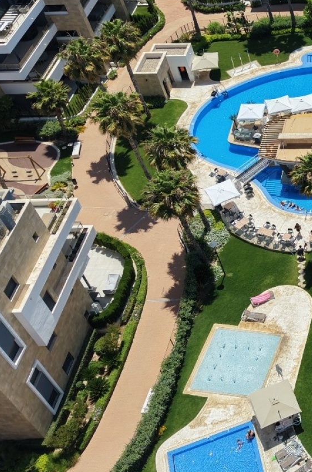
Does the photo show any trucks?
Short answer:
No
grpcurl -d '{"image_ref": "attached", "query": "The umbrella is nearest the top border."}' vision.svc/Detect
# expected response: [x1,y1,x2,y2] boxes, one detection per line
[190,50,231,77]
